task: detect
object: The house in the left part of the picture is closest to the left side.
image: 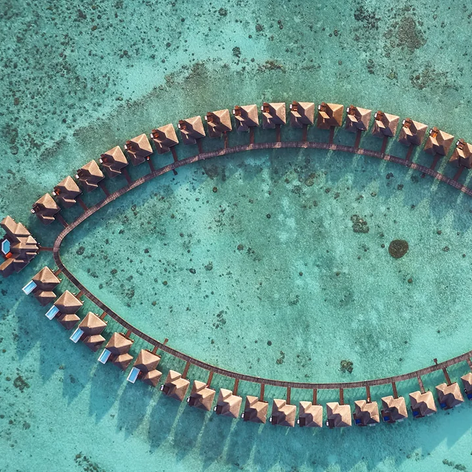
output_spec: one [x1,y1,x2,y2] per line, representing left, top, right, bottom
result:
[0,215,39,281]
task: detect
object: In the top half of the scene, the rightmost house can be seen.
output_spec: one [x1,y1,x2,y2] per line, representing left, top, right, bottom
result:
[447,139,472,170]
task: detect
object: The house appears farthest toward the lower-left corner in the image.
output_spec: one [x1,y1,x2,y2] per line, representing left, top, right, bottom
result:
[162,368,192,402]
